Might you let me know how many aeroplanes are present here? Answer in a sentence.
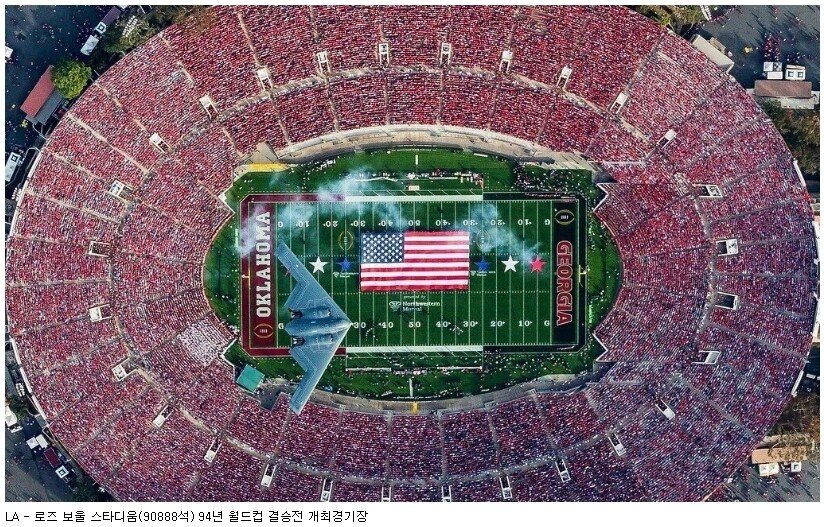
The picture shows just 1 aeroplane.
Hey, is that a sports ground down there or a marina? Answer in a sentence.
It's a sports ground.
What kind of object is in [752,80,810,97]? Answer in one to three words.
building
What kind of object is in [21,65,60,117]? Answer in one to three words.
building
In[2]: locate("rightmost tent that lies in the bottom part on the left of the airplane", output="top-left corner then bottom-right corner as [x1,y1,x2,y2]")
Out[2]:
[237,364,264,392]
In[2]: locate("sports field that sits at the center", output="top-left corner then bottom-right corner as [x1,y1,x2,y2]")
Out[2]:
[241,177,598,369]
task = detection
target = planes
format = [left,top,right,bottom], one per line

[274,242,351,414]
